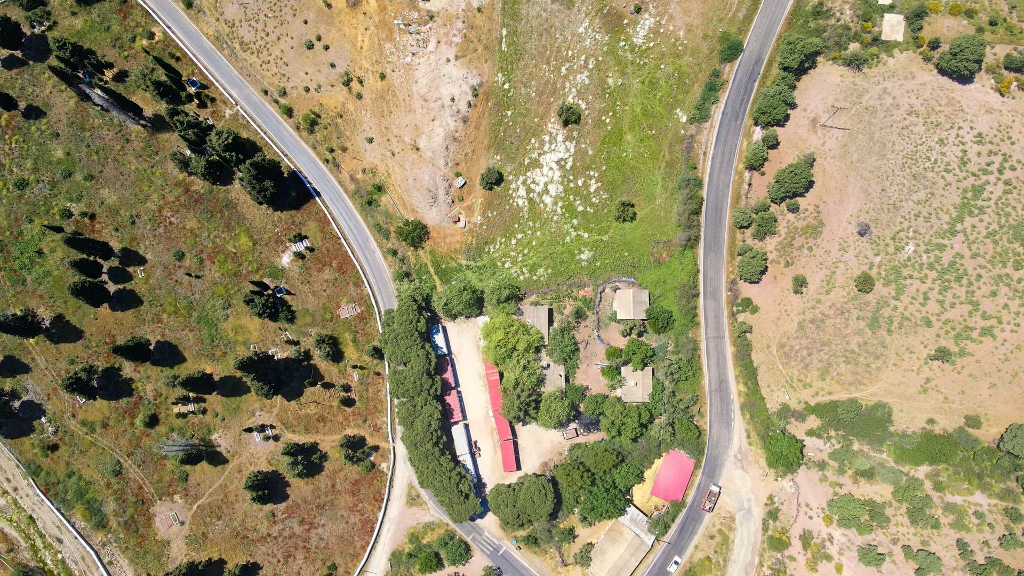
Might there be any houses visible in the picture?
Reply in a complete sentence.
Yes, there's a house here.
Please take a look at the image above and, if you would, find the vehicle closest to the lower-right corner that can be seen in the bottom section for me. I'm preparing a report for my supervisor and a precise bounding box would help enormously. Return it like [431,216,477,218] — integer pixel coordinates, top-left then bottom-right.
[701,482,721,515]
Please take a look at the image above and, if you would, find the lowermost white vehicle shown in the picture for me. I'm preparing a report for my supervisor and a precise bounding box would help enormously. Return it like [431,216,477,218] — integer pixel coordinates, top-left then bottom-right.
[668,554,680,574]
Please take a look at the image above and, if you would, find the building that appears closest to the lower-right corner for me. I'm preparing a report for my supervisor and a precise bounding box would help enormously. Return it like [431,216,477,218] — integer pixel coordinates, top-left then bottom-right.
[651,449,695,501]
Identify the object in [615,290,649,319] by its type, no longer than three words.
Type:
house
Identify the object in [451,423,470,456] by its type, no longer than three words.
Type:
shed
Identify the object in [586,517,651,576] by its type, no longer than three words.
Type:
barn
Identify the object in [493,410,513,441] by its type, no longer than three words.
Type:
shed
